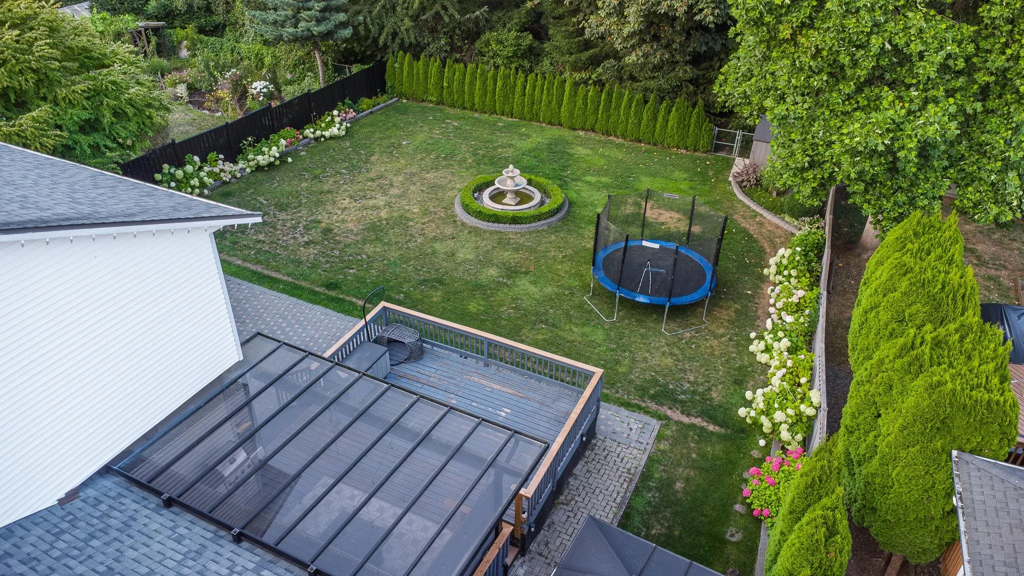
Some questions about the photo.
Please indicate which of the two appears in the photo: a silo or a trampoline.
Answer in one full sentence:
Visible in the photo is a trampoline.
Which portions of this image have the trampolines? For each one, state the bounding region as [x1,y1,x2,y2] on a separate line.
[584,186,732,334]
